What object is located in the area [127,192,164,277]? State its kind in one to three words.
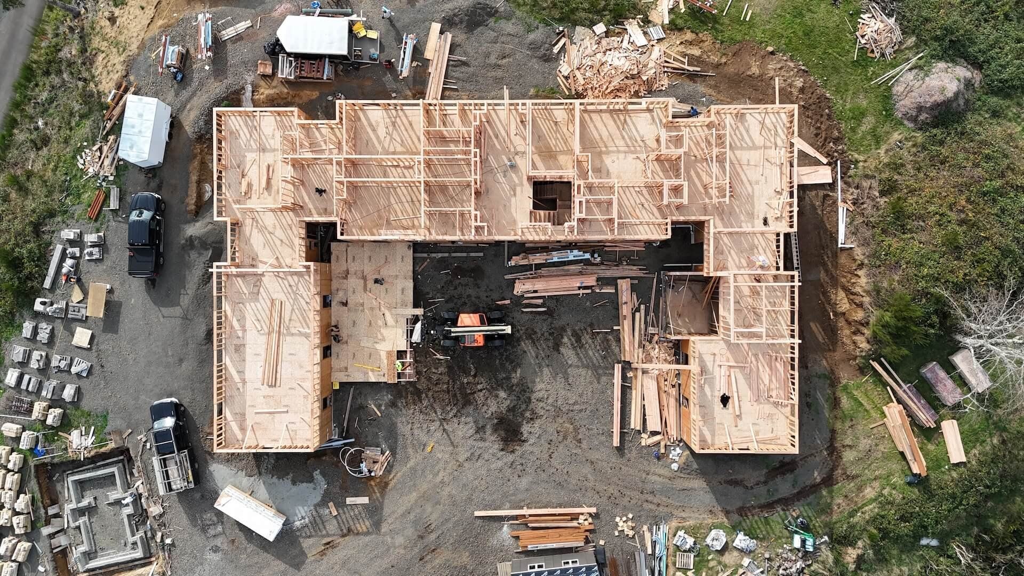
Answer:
truck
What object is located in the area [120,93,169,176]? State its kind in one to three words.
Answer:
trailer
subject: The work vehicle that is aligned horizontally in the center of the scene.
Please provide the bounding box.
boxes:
[409,313,511,347]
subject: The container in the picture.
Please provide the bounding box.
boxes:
[214,483,289,541]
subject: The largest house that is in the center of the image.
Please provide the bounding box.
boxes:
[208,78,801,453]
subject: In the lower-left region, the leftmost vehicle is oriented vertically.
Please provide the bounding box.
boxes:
[155,407,200,495]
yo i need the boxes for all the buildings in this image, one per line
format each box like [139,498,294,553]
[509,551,605,576]
[208,78,801,453]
